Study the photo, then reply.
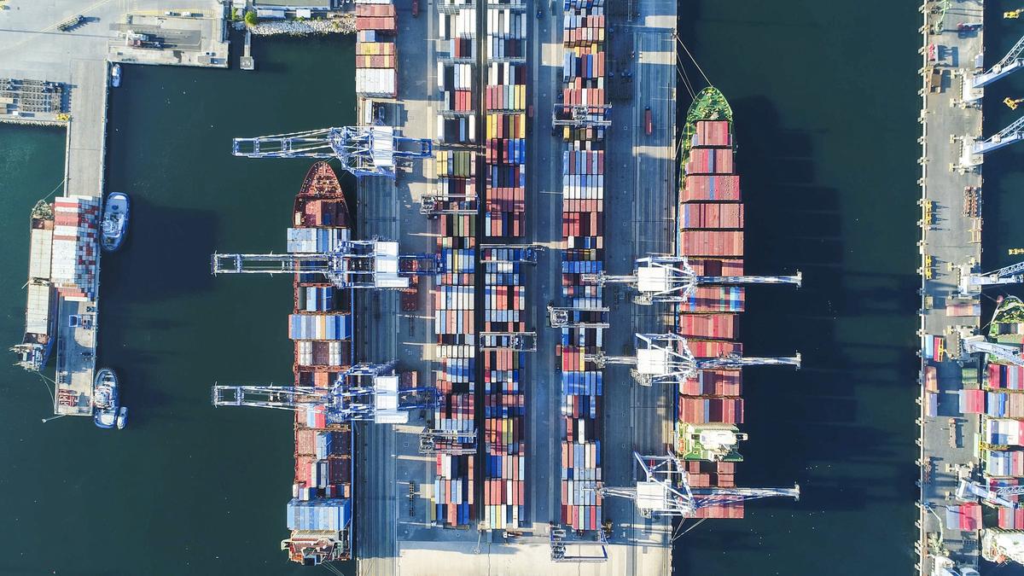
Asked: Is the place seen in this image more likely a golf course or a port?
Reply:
port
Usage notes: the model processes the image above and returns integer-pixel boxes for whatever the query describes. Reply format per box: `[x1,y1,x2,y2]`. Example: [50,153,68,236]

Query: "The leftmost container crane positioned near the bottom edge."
[549,526,609,563]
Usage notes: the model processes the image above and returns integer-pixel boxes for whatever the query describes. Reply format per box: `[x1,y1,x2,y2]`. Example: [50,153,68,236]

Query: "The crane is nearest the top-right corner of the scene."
[948,27,1024,112]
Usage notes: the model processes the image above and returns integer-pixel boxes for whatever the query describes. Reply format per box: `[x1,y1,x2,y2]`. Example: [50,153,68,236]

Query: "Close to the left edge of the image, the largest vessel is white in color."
[11,199,58,371]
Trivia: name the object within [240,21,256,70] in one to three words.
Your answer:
pier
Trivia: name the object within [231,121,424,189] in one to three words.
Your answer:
container crane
